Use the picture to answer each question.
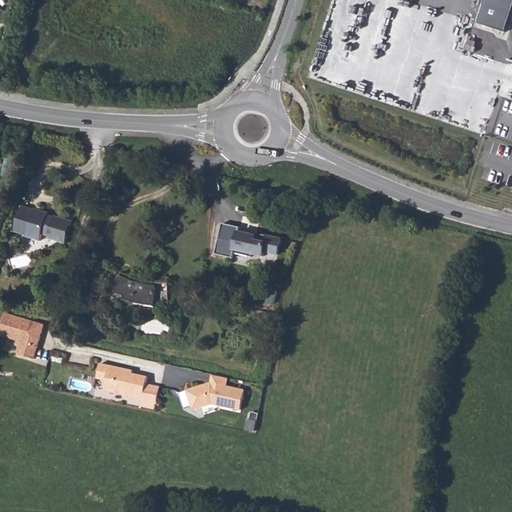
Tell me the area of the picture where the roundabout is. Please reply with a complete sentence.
You can find the roundabout in the top area of the picture.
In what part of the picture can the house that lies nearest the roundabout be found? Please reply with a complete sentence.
The house that lies nearest the roundabout is in the center part of the image.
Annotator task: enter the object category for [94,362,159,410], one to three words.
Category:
house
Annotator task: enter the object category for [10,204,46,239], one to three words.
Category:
house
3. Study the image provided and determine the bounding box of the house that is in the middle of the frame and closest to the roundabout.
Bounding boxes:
[214,222,282,257]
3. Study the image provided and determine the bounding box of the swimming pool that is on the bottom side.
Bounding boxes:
[66,376,96,394]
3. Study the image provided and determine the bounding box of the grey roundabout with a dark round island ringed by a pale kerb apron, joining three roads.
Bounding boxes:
[192,70,311,168]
